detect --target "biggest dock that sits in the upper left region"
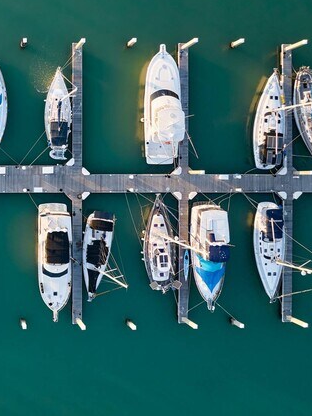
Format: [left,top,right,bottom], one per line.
[71,43,83,175]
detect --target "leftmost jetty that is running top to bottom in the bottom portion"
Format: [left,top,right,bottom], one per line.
[61,194,83,325]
